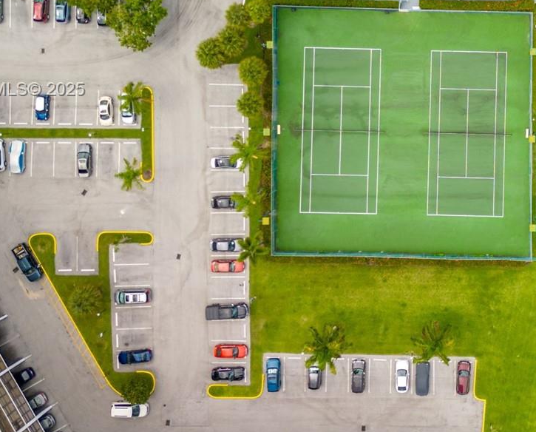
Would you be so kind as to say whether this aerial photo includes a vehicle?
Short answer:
Yes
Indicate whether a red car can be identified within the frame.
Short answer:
Yes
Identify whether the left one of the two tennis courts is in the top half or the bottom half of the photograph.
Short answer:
top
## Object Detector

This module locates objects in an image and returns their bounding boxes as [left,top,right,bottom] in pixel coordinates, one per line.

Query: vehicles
[119,348,154,365]
[120,94,137,126]
[54,0,72,25]
[34,0,51,22]
[76,0,92,25]
[96,1,111,28]
[13,365,38,386]
[111,401,148,419]
[215,343,247,359]
[117,289,151,305]
[0,139,6,172]
[455,359,471,394]
[266,357,281,390]
[210,259,246,275]
[210,155,245,170]
[307,362,321,390]
[34,92,51,120]
[76,142,94,176]
[207,304,248,320]
[394,358,409,392]
[99,96,114,125]
[351,358,365,392]
[13,243,43,281]
[213,195,243,210]
[213,366,245,382]
[211,237,246,253]
[27,390,53,410]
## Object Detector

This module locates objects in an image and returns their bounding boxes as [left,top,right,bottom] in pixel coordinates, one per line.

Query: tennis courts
[295,46,386,215]
[426,50,513,217]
